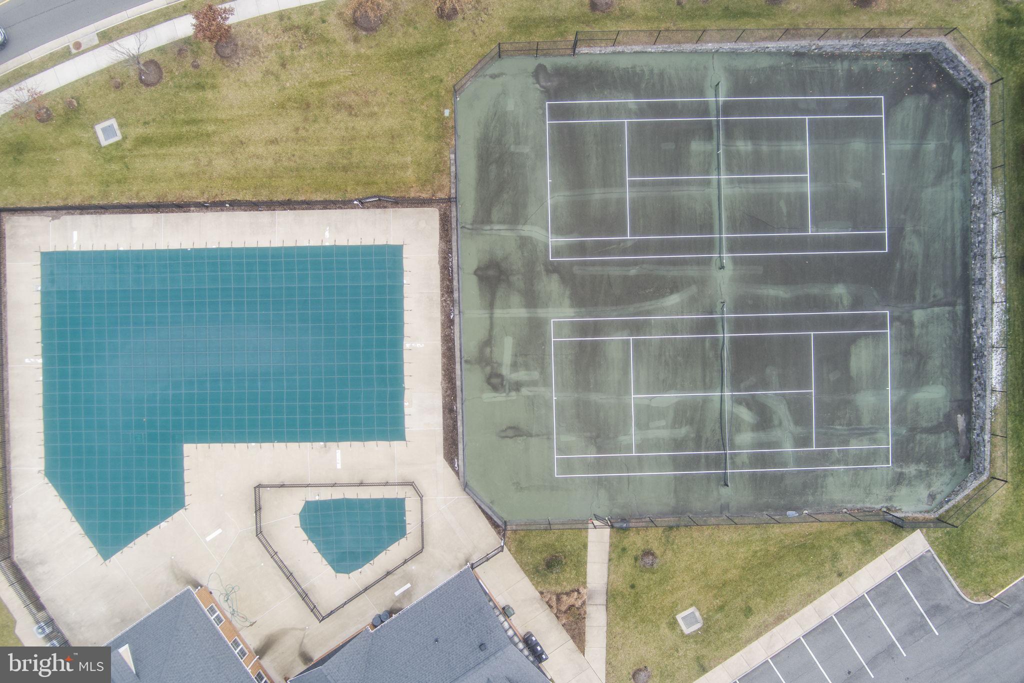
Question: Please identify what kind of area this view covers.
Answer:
sports ground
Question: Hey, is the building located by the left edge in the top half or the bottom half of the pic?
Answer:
bottom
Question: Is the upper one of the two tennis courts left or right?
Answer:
right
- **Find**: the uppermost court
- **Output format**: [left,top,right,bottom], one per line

[455,52,971,289]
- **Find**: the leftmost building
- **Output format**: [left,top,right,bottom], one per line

[48,584,273,683]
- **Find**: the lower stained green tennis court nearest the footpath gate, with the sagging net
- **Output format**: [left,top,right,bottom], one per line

[460,276,972,520]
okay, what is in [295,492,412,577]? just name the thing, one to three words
swimming pool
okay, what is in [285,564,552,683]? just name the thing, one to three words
building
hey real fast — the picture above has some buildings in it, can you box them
[285,564,552,683]
[48,584,273,683]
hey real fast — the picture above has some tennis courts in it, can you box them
[460,276,972,520]
[455,52,971,289]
